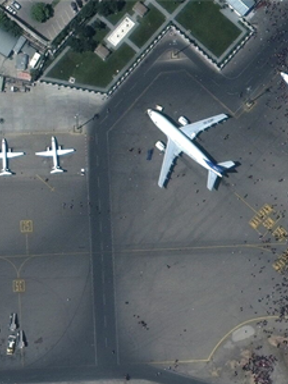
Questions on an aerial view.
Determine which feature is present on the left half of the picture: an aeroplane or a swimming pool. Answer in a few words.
aeroplane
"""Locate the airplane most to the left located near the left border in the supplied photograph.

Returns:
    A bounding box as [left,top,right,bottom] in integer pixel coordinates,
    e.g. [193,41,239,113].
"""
[0,139,25,175]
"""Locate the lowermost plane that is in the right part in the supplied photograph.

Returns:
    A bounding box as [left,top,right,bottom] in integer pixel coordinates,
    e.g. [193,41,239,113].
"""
[147,109,236,191]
